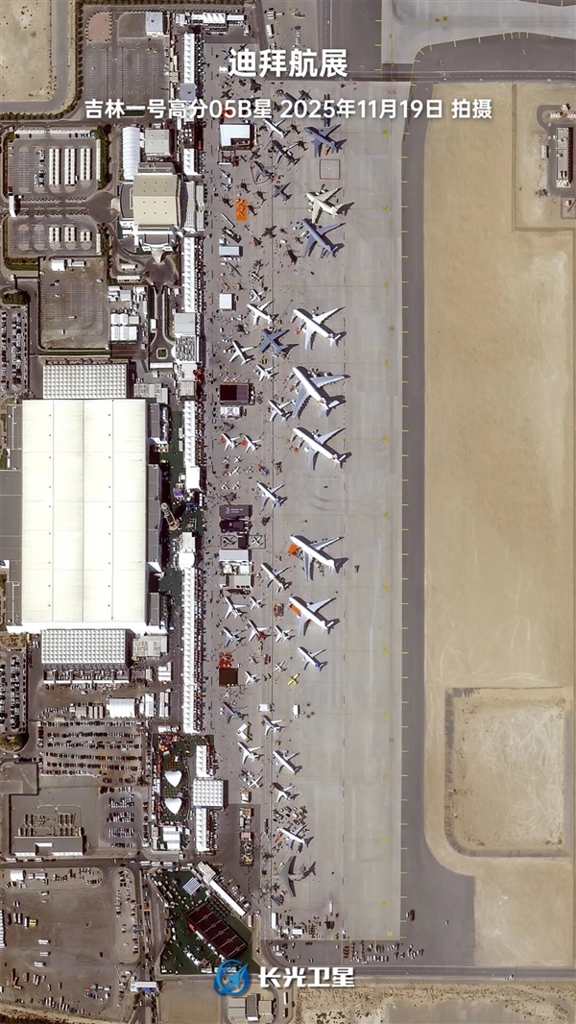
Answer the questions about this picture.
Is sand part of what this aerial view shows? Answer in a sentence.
Yes, there is sand in the image.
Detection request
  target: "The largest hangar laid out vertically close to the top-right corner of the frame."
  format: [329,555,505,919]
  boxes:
[556,128,570,191]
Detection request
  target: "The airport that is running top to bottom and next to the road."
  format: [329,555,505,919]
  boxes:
[198,0,576,966]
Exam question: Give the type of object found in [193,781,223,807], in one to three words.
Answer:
building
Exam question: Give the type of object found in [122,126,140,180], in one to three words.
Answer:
tent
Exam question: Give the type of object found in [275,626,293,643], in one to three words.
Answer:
airplane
